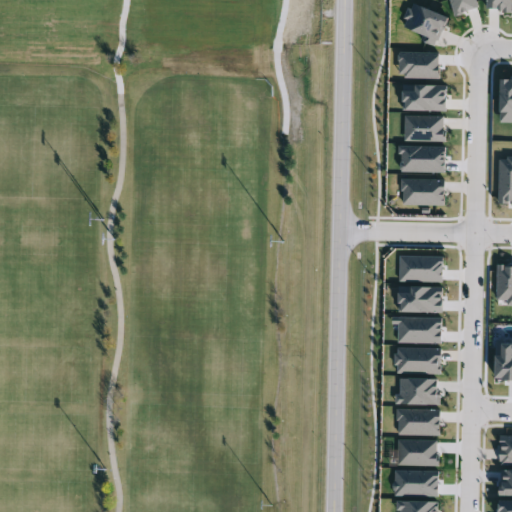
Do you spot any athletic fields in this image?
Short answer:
Yes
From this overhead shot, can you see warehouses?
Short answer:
No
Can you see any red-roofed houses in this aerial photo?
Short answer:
No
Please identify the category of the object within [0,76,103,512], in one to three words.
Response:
sports field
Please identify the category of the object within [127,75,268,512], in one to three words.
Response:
sports field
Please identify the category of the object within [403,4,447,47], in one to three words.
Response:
house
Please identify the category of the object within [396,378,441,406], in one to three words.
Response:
house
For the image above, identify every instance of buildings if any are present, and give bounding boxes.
[494,342,512,382]
[498,157,512,205]
[497,468,512,497]
[396,378,441,406]
[398,52,441,80]
[499,78,512,123]
[398,440,440,467]
[498,436,512,463]
[487,0,512,14]
[398,316,442,344]
[391,470,440,498]
[400,178,445,206]
[400,254,444,282]
[497,500,512,512]
[452,0,482,22]
[398,286,443,313]
[404,115,446,142]
[396,146,446,173]
[396,408,440,437]
[402,84,447,112]
[394,347,442,375]
[403,4,447,47]
[496,264,512,304]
